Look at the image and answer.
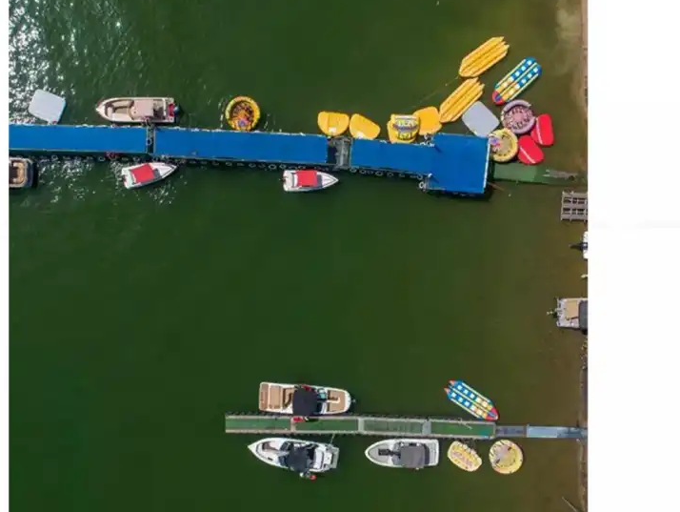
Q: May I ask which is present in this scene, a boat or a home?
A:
boat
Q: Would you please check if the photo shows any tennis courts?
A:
No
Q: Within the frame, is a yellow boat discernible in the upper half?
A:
Yes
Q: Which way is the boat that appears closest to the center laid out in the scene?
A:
horizontally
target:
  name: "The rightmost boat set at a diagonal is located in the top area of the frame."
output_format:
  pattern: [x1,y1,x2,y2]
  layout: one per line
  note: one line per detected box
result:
[492,55,546,107]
